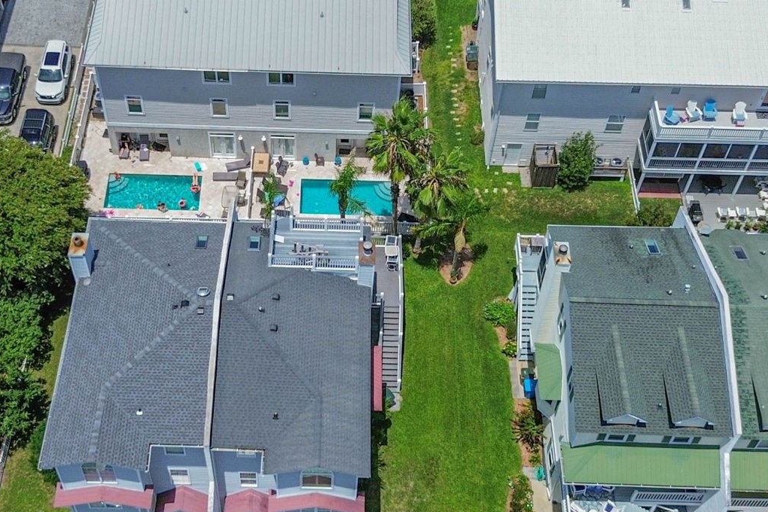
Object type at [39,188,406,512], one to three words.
house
